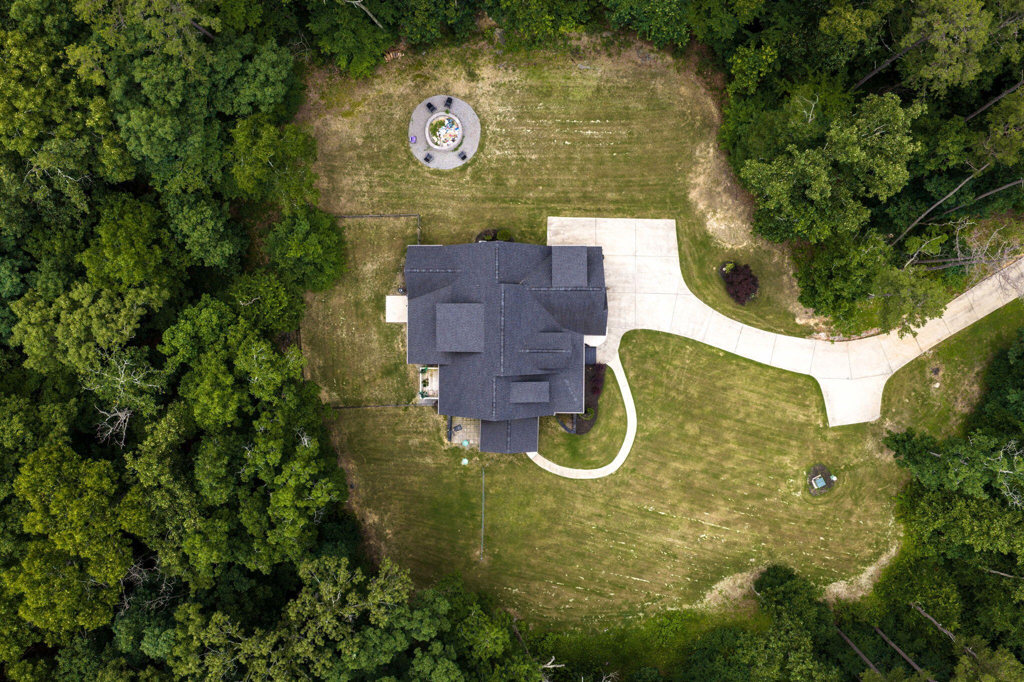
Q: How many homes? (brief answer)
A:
1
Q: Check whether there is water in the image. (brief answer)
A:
No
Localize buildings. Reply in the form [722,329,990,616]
[404,241,608,453]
